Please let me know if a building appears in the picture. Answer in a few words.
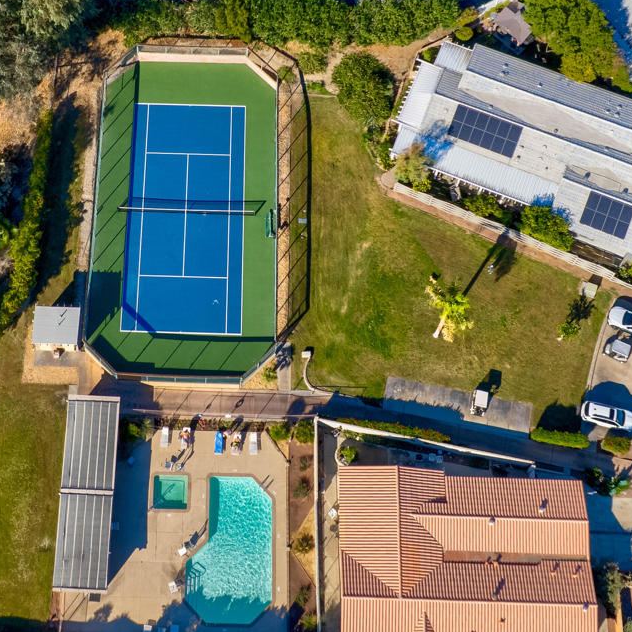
Yes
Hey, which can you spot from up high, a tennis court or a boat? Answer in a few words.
tennis court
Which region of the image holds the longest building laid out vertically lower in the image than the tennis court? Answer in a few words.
bottom left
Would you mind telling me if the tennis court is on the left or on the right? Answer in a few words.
left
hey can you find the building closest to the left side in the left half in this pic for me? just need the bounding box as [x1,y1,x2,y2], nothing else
[32,305,79,351]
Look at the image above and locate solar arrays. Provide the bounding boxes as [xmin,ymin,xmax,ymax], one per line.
[578,190,632,240]
[447,102,525,158]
